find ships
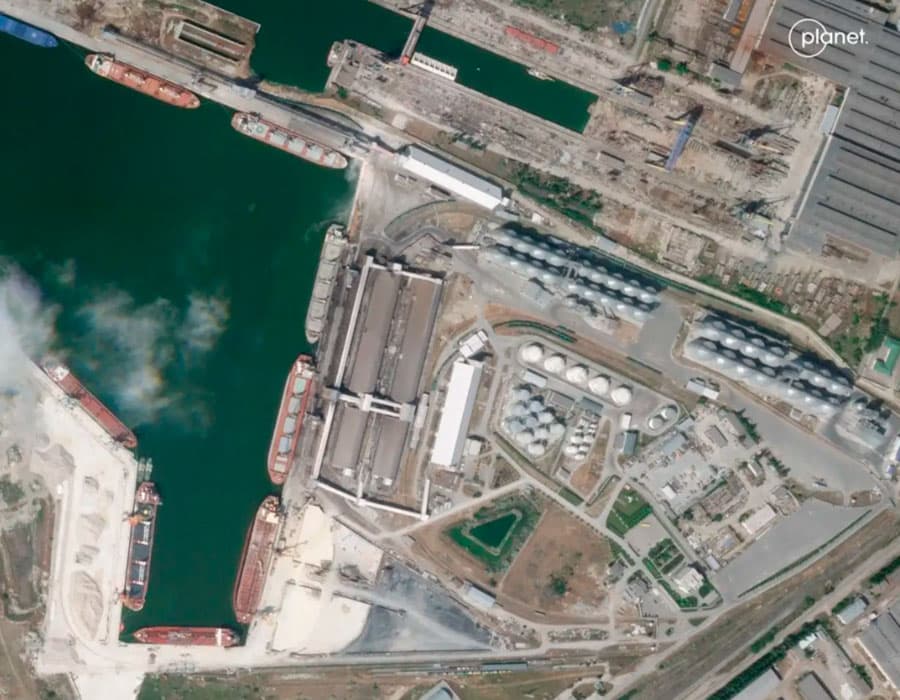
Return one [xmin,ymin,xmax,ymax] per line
[0,13,58,46]
[273,354,315,485]
[237,493,285,622]
[134,629,241,648]
[306,223,347,344]
[82,55,200,107]
[228,116,347,167]
[327,40,342,68]
[43,358,134,446]
[127,482,161,611]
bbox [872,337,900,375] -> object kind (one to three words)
house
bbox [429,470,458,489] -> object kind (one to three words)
building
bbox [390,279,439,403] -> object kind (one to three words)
shed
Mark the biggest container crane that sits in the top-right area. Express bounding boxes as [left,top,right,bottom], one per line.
[654,120,692,172]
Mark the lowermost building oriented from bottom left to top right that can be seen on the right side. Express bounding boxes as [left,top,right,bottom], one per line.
[732,667,783,700]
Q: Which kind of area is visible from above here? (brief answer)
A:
port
